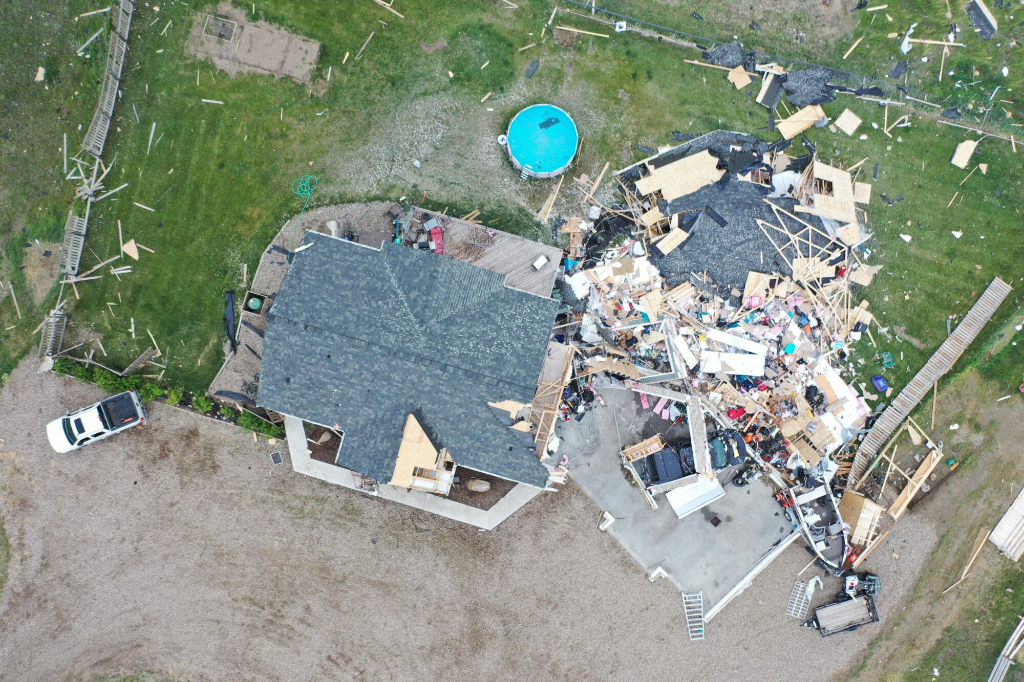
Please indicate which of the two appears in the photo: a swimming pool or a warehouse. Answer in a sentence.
The one in the frame is a swimming pool.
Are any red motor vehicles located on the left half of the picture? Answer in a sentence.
No, looking on the left half of the picture, there is no red motor vehicle.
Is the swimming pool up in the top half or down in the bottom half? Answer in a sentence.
The swimming pool is in the top half of the image.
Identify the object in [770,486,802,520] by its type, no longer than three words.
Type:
work vehicle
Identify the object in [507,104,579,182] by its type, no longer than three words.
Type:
swimming pool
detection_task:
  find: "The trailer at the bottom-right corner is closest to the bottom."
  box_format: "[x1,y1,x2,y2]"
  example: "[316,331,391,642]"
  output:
[801,597,893,643]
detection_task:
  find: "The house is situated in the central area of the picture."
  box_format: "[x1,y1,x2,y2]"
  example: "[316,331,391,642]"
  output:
[256,228,576,497]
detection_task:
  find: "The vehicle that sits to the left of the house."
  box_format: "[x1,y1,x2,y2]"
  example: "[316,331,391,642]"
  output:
[45,388,156,454]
